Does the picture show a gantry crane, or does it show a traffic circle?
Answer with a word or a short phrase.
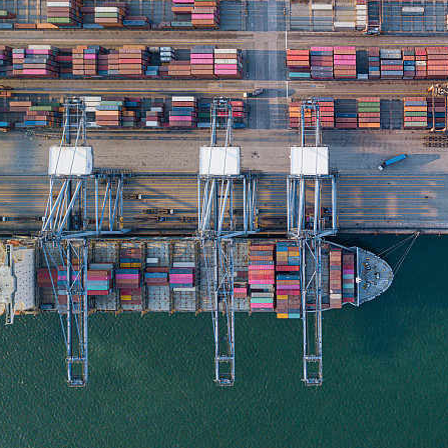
gantry crane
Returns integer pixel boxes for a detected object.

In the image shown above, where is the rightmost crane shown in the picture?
[425,82,448,134]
